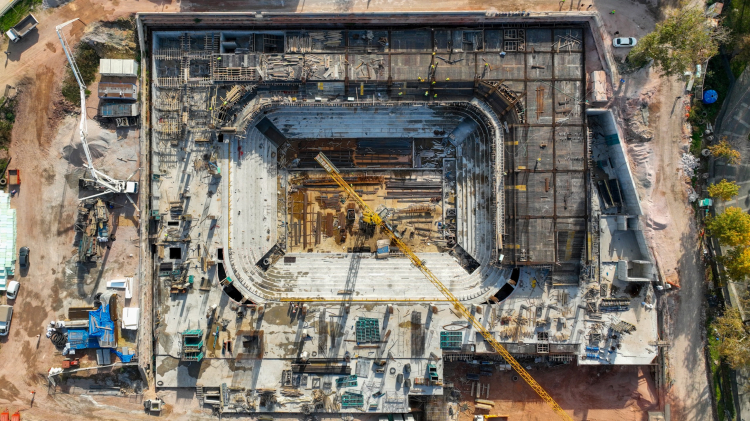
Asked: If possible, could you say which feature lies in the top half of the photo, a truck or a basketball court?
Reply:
truck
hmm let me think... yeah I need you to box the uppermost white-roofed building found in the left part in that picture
[100,59,144,80]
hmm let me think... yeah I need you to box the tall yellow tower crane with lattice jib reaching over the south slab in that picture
[315,149,576,421]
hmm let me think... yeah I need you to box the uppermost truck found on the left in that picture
[1,10,42,45]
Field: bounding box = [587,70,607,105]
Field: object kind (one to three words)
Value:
building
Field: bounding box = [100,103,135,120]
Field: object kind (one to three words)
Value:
building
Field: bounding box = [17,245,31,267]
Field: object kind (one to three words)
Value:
vehicle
